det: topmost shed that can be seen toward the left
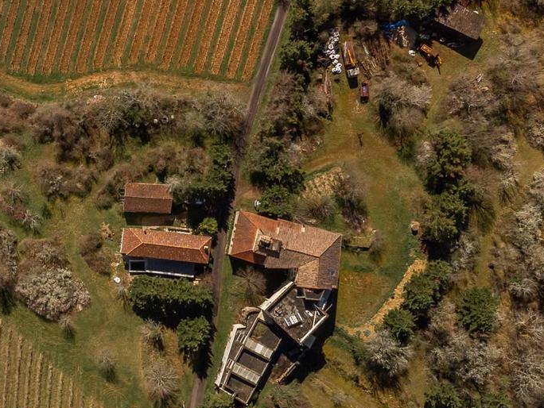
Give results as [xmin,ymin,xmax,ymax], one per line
[123,181,172,214]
